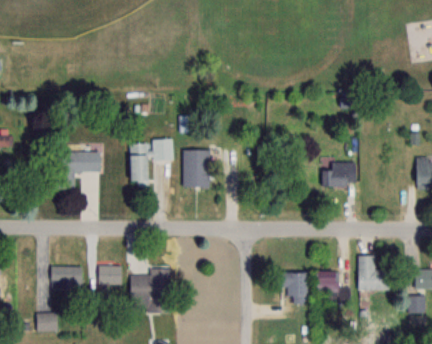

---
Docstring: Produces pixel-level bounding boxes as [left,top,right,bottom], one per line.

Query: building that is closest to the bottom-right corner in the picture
[408,295,426,314]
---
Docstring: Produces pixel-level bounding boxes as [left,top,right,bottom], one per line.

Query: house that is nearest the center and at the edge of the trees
[183,150,210,192]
